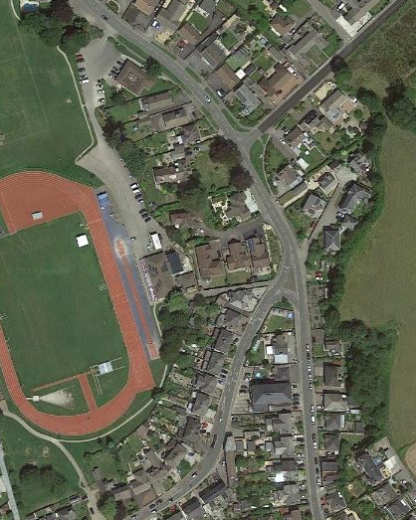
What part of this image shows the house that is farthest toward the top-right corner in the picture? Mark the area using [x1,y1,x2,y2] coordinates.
[348,0,380,20]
